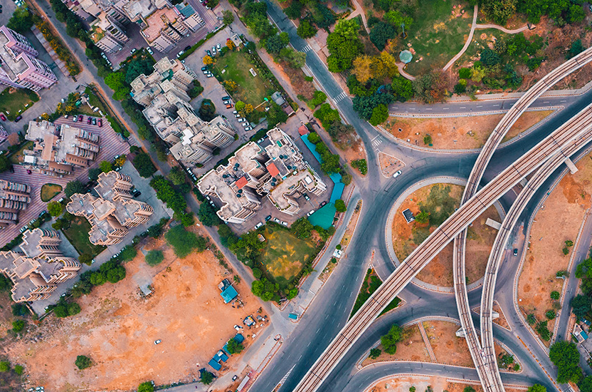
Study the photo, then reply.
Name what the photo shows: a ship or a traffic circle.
traffic circle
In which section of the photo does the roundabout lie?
right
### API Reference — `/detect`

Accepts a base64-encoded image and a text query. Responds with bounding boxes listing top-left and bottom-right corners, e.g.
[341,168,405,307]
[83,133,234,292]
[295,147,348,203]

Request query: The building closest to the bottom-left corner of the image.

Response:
[0,225,86,305]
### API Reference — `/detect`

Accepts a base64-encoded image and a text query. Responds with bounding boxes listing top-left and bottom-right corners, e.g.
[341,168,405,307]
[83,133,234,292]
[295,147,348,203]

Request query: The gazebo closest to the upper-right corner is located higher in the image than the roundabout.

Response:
[399,50,412,65]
